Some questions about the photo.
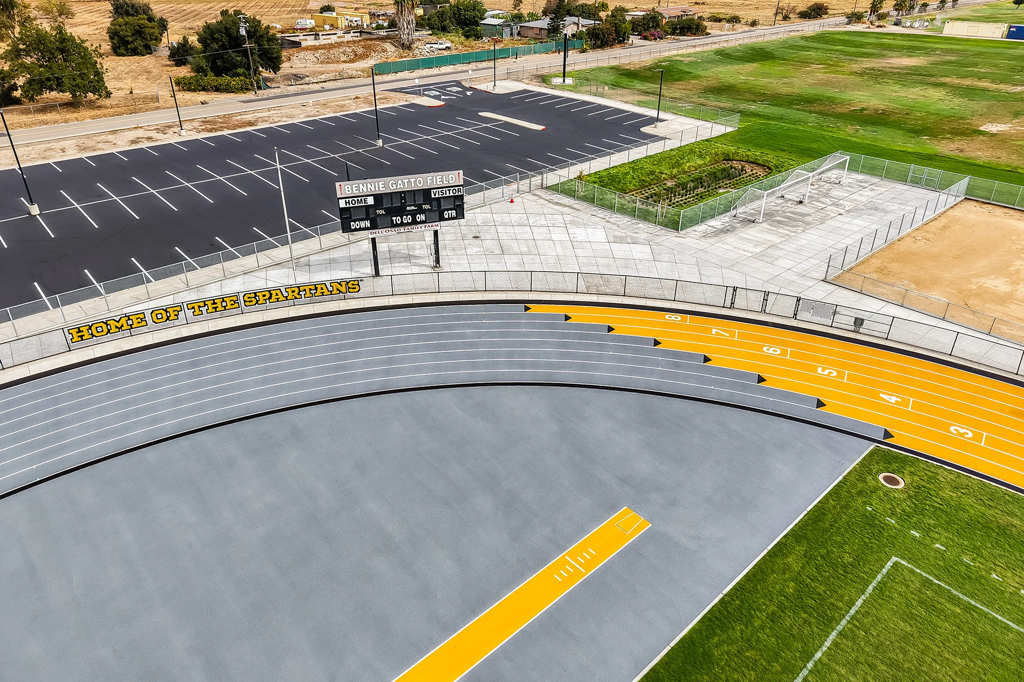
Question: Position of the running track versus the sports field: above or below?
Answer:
below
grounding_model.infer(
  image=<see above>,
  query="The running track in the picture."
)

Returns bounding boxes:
[0,299,1024,500]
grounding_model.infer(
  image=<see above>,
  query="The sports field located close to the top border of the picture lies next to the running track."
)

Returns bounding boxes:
[539,31,1024,208]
